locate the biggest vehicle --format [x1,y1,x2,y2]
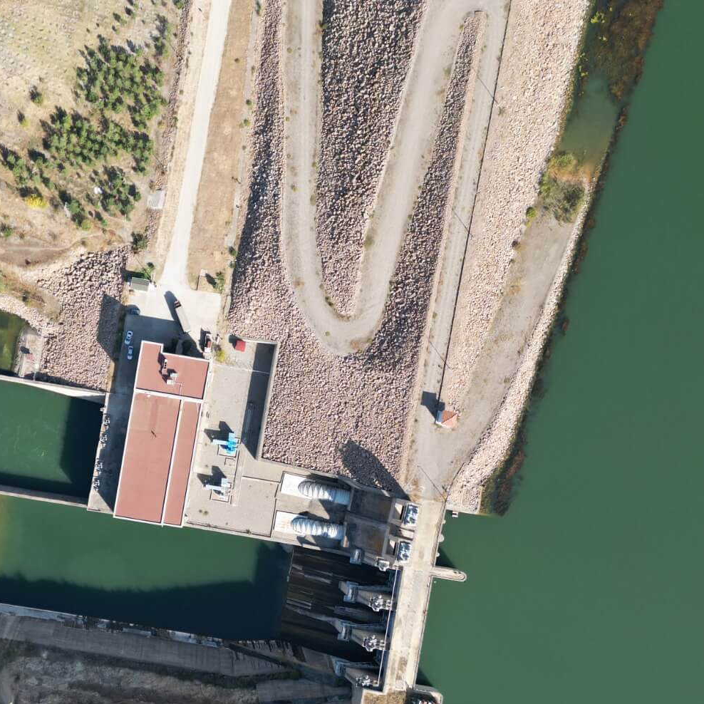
[169,294,192,333]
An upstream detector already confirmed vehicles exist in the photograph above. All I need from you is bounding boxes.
[125,330,133,344]
[127,345,133,360]
[204,331,213,352]
[128,307,141,315]
[169,294,192,333]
